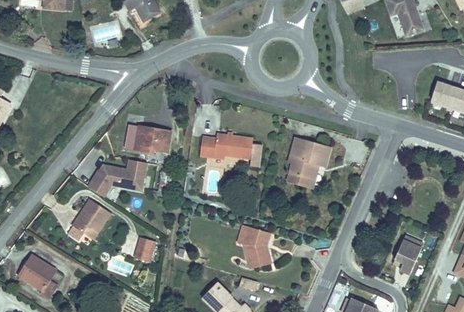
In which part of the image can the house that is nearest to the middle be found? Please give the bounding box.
[201,131,264,168]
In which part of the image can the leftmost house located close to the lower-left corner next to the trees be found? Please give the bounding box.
[18,252,59,298]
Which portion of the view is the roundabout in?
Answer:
top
